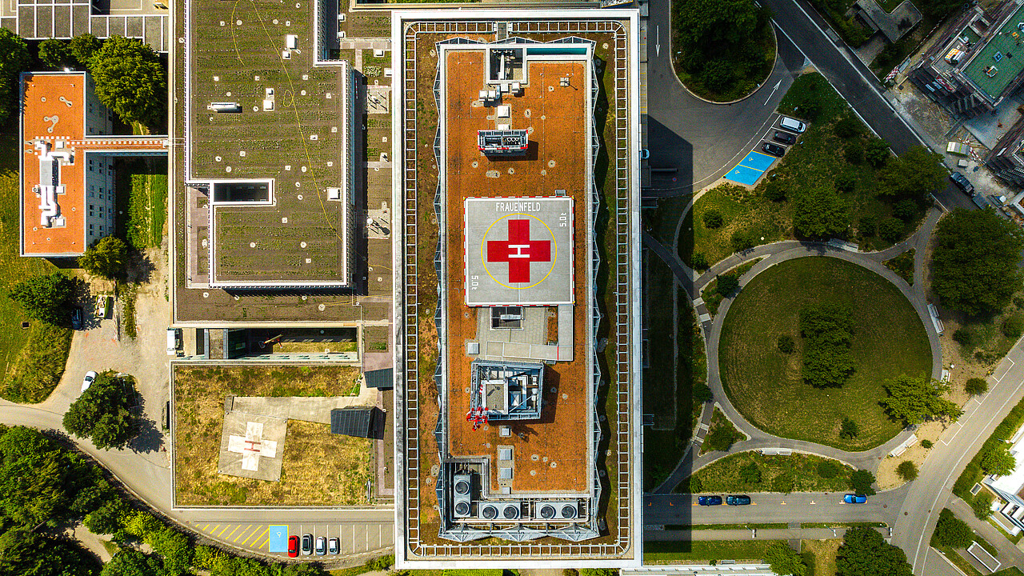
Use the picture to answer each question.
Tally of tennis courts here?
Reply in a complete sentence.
No tennis courts are visible.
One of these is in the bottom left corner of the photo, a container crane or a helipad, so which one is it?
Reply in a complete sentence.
Visible in the bottom left corner of the photo is a helipad.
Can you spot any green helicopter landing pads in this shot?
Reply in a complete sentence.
No, this view has no green helicopter landing pad in it.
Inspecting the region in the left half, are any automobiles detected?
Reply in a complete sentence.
Yes, an automobile shows up in the left half.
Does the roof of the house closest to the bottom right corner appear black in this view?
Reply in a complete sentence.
No, the roof of the house closest to the bottom right corner is actually white.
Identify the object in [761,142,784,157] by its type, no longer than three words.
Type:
car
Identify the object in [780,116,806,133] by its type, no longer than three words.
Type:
vehicle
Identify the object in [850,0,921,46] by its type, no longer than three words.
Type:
house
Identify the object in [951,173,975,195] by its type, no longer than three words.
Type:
car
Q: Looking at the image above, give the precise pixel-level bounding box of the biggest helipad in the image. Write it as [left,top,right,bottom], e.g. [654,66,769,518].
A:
[464,190,576,364]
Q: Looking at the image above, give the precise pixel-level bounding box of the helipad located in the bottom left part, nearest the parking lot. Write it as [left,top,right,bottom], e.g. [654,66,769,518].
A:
[219,411,287,481]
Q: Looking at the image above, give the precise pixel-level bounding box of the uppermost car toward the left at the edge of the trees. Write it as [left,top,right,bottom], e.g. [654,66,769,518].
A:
[72,308,84,330]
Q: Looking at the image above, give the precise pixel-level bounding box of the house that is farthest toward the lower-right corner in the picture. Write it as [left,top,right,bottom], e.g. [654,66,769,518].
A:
[973,418,1024,541]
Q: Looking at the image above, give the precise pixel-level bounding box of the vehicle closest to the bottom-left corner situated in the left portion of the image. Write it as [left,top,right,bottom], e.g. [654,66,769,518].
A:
[81,370,98,392]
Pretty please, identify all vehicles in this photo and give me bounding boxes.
[761,142,784,157]
[72,308,84,330]
[780,116,806,133]
[315,536,325,555]
[301,533,312,555]
[328,536,338,554]
[951,173,975,195]
[843,493,867,504]
[698,495,722,506]
[165,329,178,357]
[288,535,299,556]
[81,370,98,392]
[772,130,795,145]
[725,494,750,506]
